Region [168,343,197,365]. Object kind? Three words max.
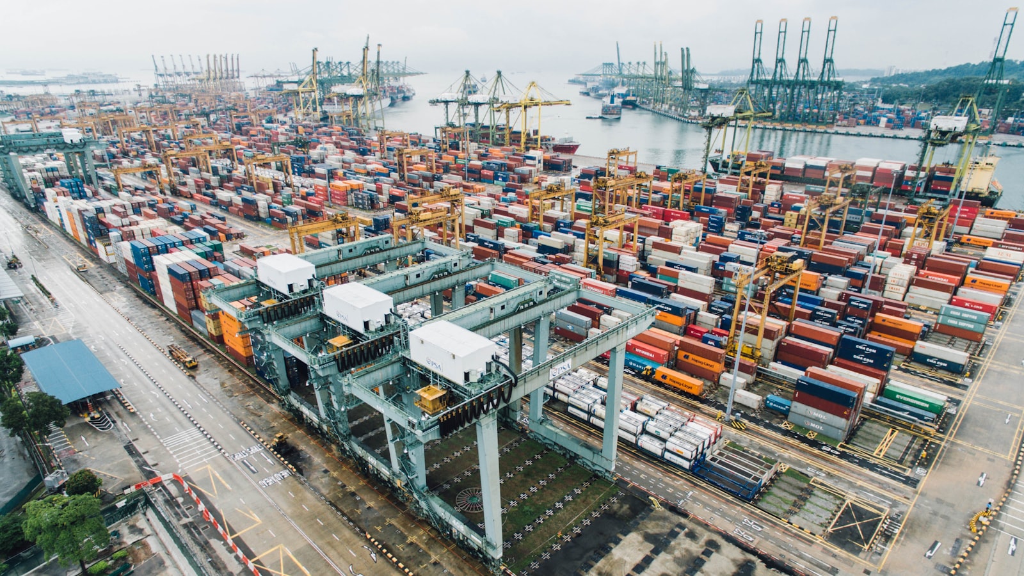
truck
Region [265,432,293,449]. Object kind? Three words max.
work vehicle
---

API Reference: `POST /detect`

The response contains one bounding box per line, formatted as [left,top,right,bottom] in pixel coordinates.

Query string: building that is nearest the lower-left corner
[37,465,71,496]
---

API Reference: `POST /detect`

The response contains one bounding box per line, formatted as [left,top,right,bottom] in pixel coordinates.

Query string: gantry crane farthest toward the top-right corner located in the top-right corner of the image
[968,8,1012,141]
